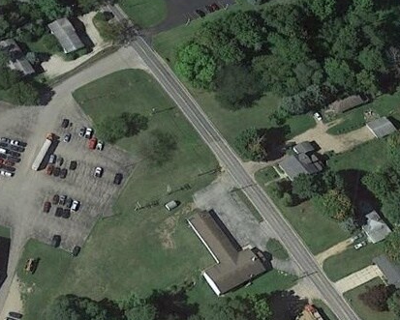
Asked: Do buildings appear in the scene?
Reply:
Yes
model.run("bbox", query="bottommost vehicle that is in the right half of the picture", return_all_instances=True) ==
[306,304,323,320]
